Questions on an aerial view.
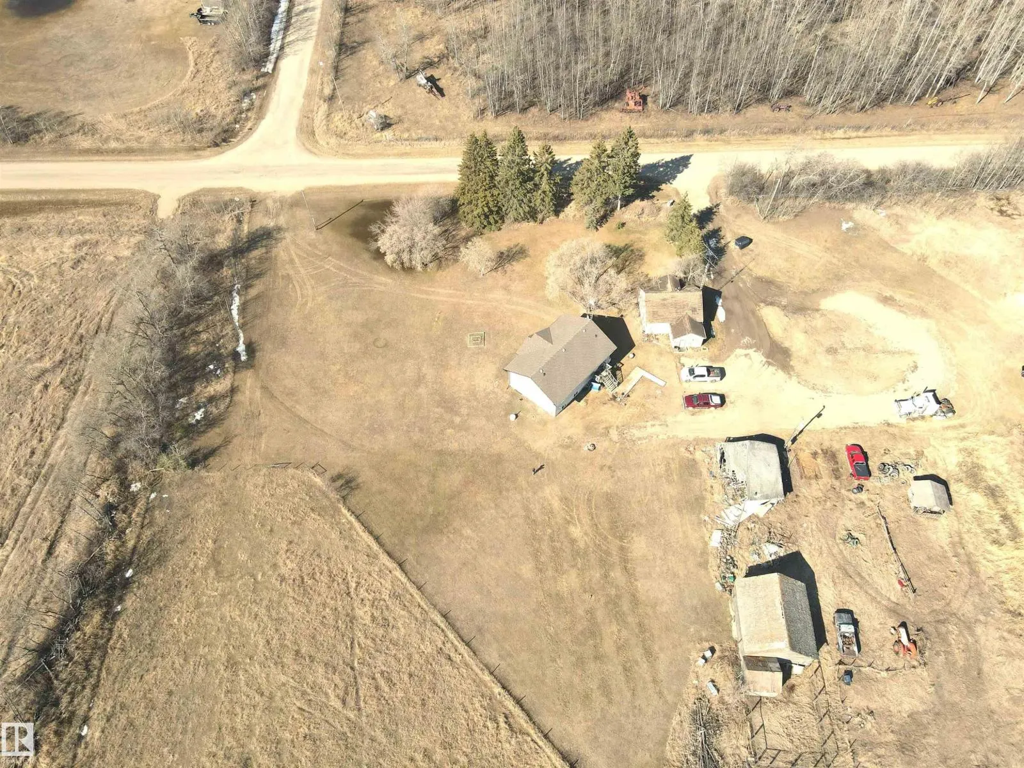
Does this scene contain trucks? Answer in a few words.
Yes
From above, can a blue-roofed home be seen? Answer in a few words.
No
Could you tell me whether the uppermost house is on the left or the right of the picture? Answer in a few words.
right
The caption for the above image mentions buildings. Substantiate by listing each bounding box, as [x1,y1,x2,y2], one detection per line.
[640,270,706,356]
[502,316,617,415]
[904,478,951,527]
[711,440,784,540]
[730,570,819,702]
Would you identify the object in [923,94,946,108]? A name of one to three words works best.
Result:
work vehicle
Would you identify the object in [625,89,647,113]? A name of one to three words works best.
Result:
work vehicle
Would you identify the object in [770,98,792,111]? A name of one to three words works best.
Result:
vehicle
